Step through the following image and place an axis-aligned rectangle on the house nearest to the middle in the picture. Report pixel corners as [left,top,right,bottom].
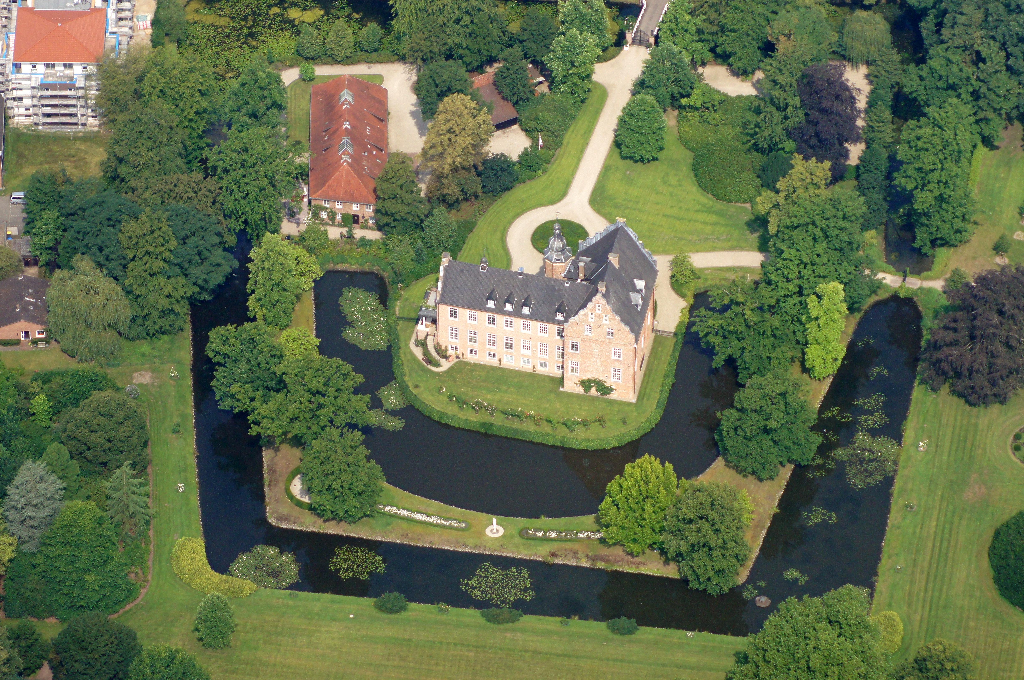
[417,211,659,398]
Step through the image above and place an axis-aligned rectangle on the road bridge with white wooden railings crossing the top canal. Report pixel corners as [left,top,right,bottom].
[629,0,675,44]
